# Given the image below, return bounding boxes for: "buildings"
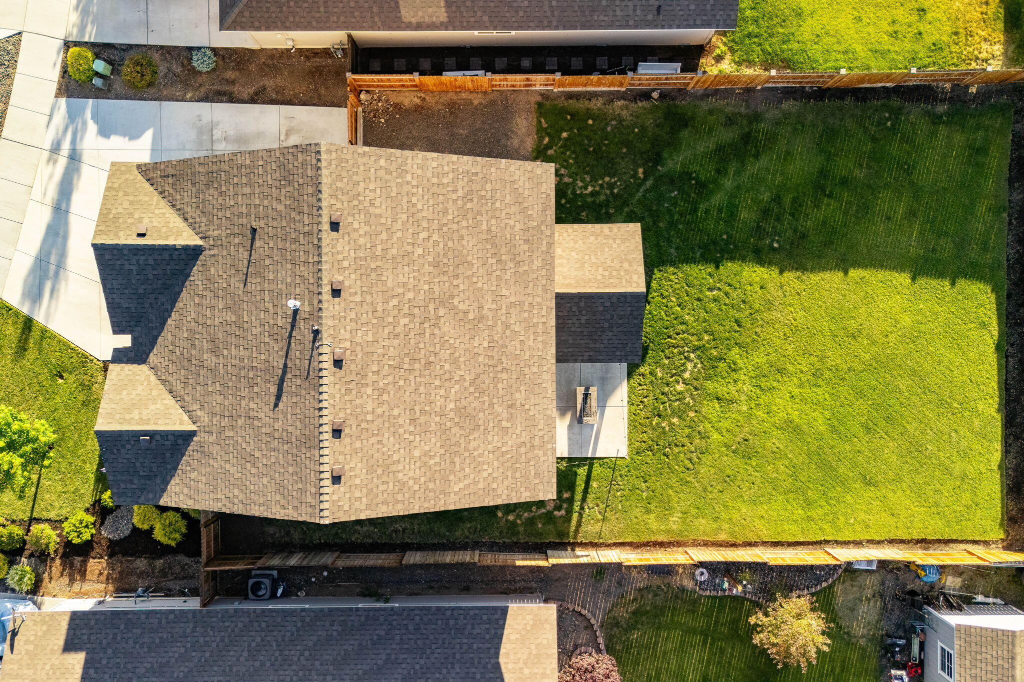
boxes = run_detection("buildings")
[91,141,644,522]
[217,0,740,58]
[924,604,1024,682]
[0,596,558,682]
